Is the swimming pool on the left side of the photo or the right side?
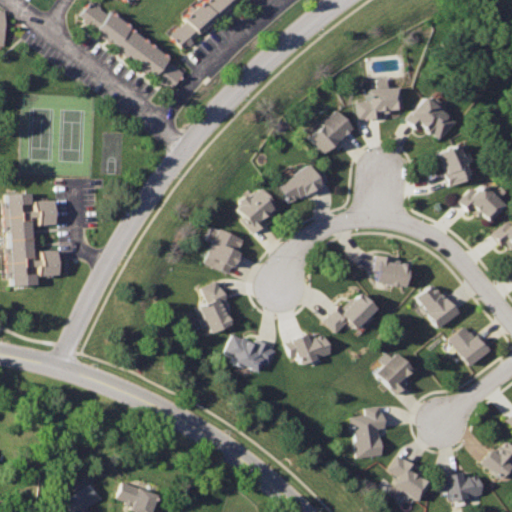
right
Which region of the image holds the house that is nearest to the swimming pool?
top right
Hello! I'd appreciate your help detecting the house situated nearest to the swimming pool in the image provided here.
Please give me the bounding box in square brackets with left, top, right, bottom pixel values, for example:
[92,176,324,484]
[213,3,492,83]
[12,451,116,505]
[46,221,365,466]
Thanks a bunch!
[354,79,401,120]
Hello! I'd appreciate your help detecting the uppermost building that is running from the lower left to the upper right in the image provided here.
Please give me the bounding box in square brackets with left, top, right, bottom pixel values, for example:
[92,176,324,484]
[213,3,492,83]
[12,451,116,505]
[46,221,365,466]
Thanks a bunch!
[169,0,238,46]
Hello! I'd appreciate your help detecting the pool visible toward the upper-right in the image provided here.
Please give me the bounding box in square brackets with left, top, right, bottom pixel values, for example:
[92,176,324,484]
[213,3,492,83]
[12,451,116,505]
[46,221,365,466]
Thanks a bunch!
[366,56,404,79]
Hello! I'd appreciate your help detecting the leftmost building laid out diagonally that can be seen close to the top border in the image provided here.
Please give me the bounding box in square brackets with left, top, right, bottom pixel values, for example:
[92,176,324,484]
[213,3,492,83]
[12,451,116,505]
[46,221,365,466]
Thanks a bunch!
[78,2,185,86]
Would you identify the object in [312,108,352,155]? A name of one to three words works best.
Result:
house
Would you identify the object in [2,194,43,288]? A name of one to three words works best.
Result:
building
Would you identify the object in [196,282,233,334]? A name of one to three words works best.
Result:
house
